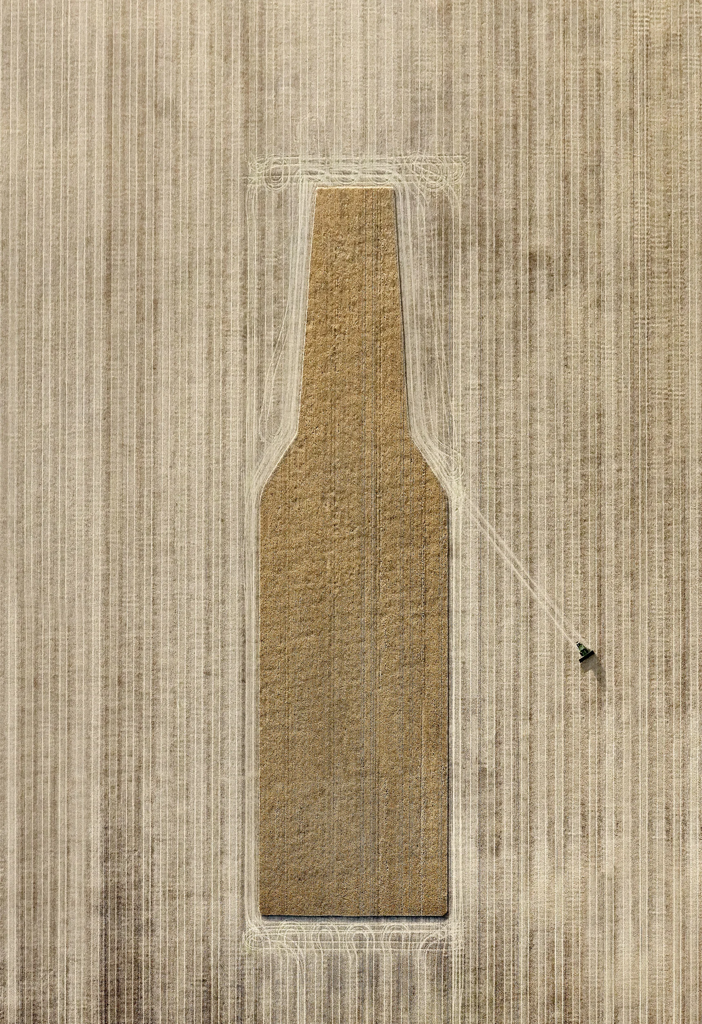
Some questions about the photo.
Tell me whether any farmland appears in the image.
Yes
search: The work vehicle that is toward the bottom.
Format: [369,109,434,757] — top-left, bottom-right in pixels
[575,642,595,663]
